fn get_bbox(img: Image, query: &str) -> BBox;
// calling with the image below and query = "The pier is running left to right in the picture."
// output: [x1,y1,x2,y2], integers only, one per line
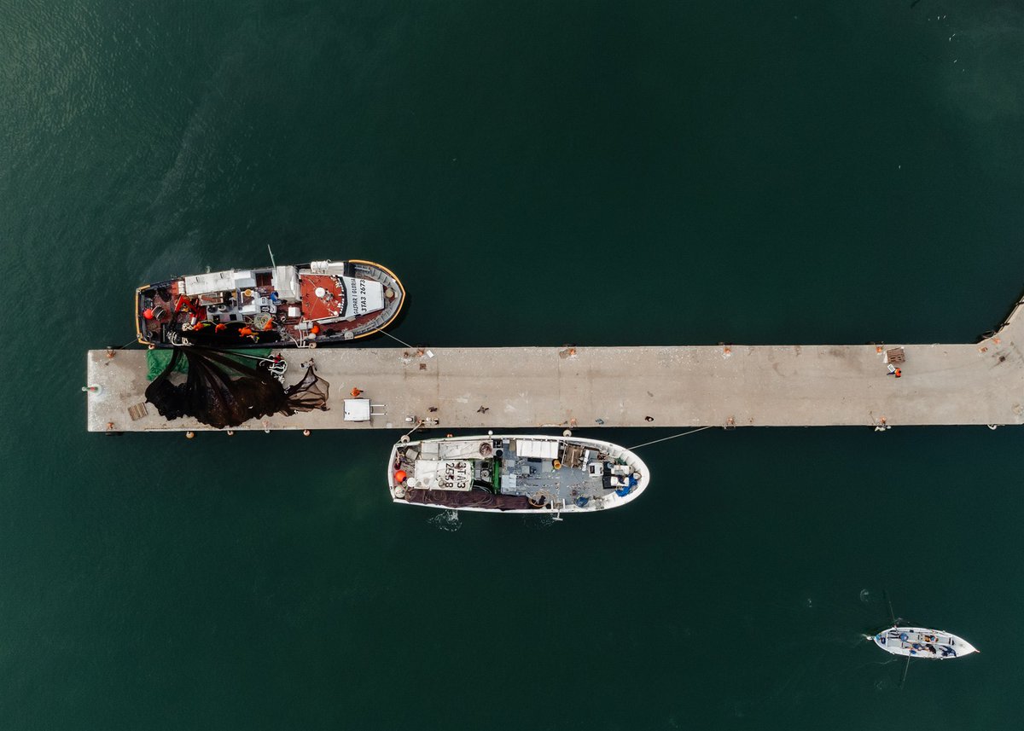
[89,289,1024,431]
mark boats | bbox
[868,626,981,660]
[388,430,650,520]
[135,245,407,348]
